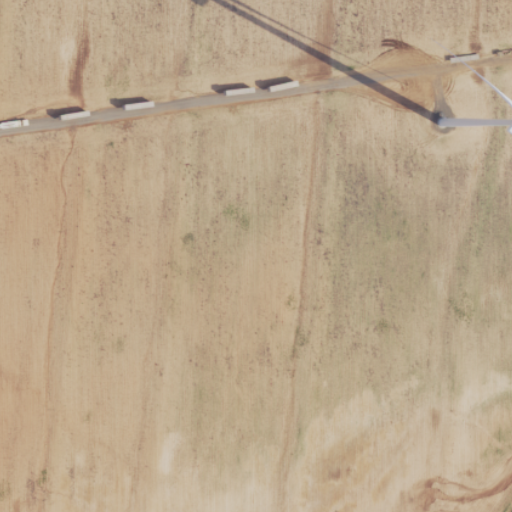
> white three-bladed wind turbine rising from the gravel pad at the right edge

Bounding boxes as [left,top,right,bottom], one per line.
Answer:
[434,40,512,132]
